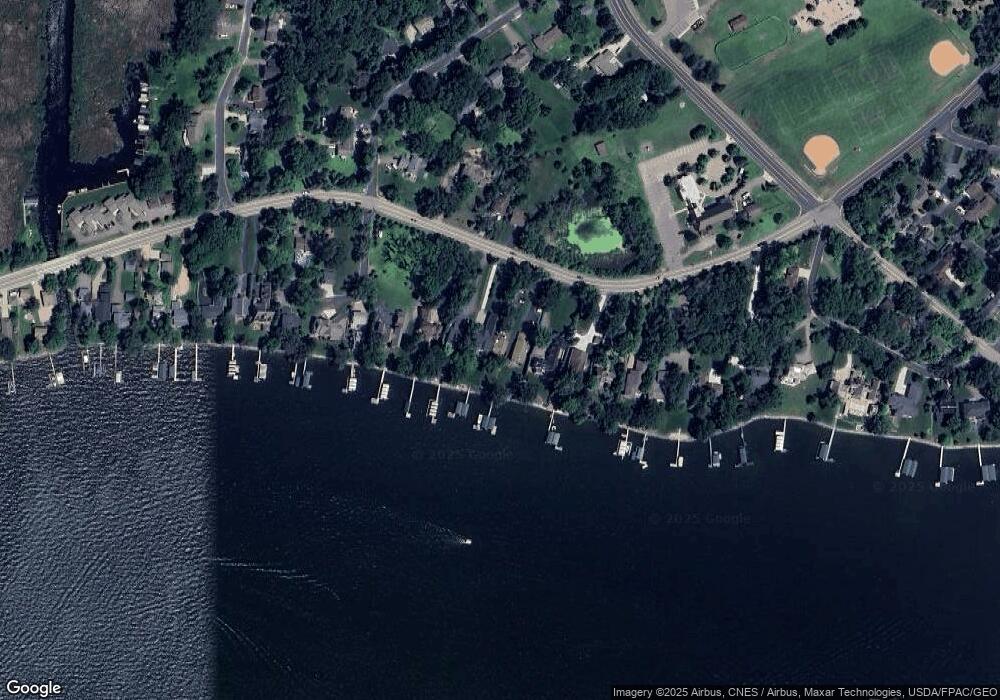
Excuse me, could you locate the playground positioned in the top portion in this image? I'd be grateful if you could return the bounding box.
[795,0,863,35]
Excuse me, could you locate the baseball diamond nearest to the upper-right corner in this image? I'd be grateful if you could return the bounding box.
[929,34,973,83]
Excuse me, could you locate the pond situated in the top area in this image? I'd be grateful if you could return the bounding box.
[568,207,624,255]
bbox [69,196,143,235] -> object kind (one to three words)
building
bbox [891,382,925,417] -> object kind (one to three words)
house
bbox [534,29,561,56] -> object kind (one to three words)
house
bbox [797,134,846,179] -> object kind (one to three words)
baseball field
